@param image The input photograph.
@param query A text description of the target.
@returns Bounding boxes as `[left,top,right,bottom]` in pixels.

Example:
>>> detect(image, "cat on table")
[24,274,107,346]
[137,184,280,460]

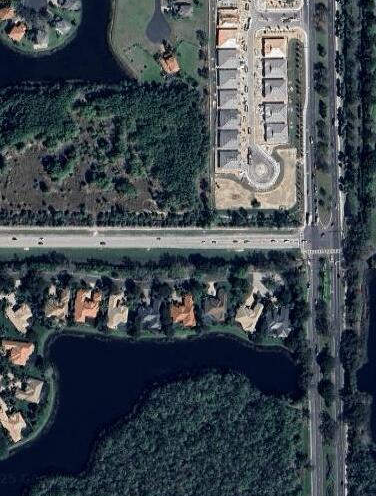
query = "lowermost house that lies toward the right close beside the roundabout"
[218,150,239,169]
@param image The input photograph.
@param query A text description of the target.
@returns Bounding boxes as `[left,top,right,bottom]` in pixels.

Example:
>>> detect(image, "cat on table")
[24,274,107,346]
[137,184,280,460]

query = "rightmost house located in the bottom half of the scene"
[267,305,292,339]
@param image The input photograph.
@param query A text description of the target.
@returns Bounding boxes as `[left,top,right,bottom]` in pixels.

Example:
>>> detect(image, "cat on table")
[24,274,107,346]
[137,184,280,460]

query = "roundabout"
[245,144,280,187]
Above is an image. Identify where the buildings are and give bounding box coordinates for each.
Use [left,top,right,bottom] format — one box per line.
[7,20,27,43]
[264,80,286,98]
[53,16,74,36]
[61,0,85,10]
[218,50,237,67]
[265,103,287,121]
[2,305,34,337]
[0,6,15,20]
[160,51,183,75]
[218,70,237,88]
[1,340,38,362]
[218,9,238,28]
[218,110,238,128]
[264,39,286,57]
[169,297,195,331]
[265,124,287,142]
[19,375,47,404]
[73,290,100,326]
[267,305,292,339]
[219,130,238,148]
[264,60,286,77]
[233,297,263,335]
[219,90,238,108]
[218,30,237,48]
[33,29,50,46]
[136,304,162,336]
[0,407,27,443]
[106,294,129,332]
[218,150,239,169]
[45,289,70,321]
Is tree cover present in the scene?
Yes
